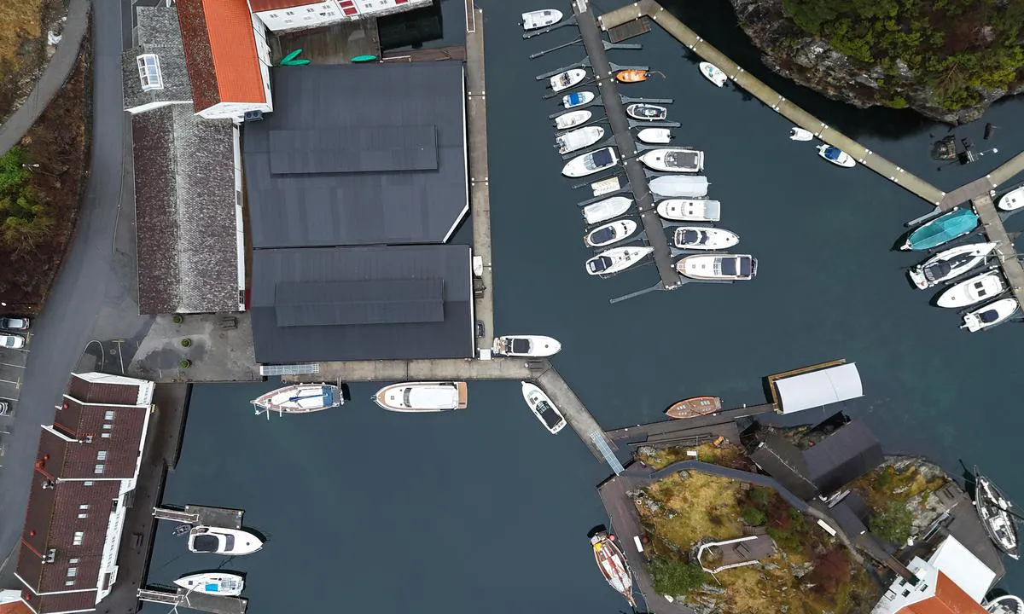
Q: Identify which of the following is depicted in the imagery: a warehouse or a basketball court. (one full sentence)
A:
Of the two, only a warehouse appears.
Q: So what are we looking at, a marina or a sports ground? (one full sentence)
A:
This image shows a marina.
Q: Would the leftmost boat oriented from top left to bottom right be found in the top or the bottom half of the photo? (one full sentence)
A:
The leftmost boat oriented from top left to bottom right is in the bottom half of the image.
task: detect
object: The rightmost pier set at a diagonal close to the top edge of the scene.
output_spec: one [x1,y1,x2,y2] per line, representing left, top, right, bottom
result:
[652,6,944,205]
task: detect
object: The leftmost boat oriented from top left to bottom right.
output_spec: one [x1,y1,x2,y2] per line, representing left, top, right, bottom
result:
[520,380,565,433]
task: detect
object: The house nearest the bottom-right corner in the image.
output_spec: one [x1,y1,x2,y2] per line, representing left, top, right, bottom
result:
[870,531,996,614]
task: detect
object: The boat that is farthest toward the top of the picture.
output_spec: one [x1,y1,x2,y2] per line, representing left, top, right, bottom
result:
[518,7,577,29]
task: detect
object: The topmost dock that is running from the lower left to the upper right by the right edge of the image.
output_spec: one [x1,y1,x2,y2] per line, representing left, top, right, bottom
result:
[985,151,1024,185]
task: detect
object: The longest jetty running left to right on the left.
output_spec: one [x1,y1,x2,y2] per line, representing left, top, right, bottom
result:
[284,358,534,382]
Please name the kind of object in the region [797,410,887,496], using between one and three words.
building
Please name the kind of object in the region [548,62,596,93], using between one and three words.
boat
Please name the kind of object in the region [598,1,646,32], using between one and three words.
pier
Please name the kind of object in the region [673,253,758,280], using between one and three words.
boat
